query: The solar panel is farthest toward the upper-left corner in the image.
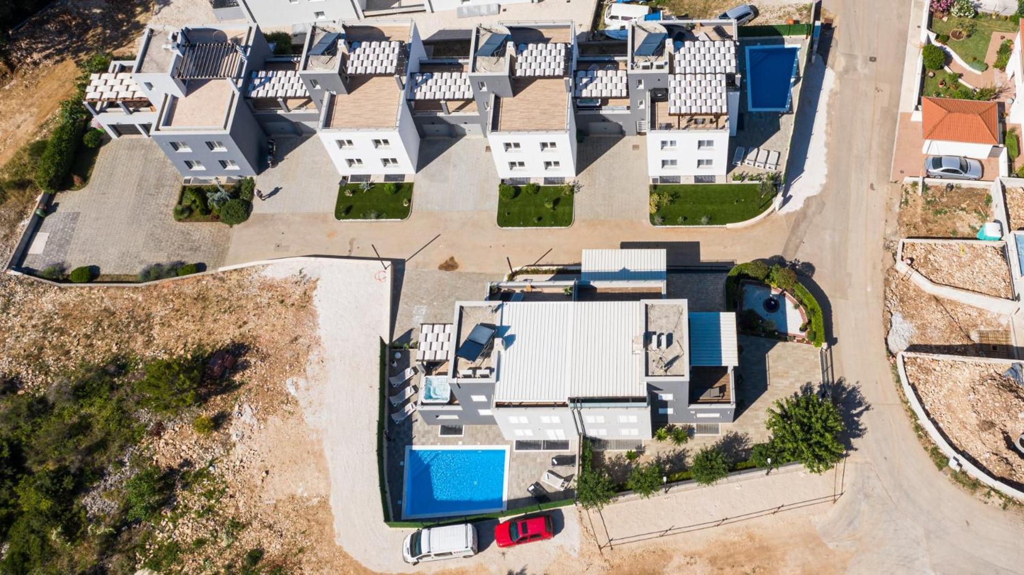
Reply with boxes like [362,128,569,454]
[307,27,344,63]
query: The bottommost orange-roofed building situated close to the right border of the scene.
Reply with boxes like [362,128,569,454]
[916,98,1008,160]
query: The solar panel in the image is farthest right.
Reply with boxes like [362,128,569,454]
[631,28,668,63]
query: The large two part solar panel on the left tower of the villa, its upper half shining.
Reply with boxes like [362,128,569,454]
[450,312,497,361]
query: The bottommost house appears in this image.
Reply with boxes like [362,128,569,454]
[418,276,735,453]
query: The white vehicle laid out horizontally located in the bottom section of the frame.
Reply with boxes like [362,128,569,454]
[404,519,481,561]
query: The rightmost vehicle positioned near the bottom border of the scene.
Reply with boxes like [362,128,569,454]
[493,511,557,547]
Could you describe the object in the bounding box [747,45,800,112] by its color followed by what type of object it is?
blue swimming pool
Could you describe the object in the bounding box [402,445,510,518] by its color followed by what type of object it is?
blue swimming pool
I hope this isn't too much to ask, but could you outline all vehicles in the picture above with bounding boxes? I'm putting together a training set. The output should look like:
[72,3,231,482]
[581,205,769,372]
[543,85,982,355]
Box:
[404,519,481,561]
[599,3,658,27]
[715,1,766,28]
[493,511,557,547]
[922,153,985,181]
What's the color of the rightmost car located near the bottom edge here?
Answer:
red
